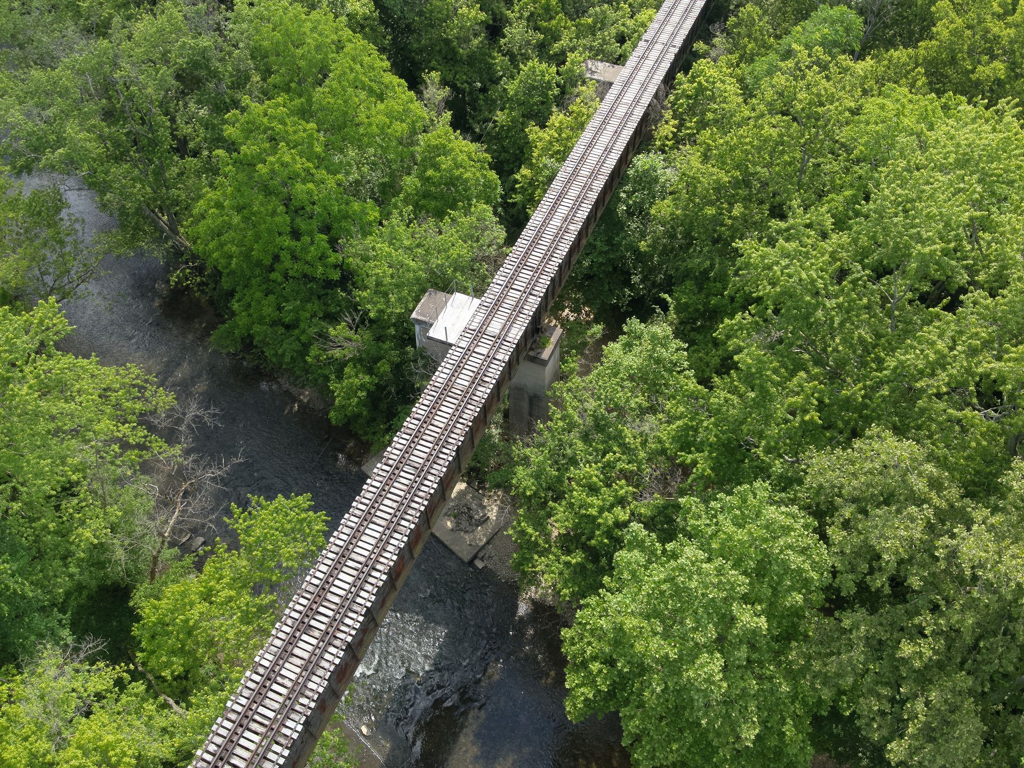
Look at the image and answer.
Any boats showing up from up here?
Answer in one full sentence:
No, the frame has no boat in it.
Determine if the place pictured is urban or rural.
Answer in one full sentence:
The area shown here is rural.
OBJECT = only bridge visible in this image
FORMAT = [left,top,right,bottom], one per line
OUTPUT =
[189,0,715,768]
